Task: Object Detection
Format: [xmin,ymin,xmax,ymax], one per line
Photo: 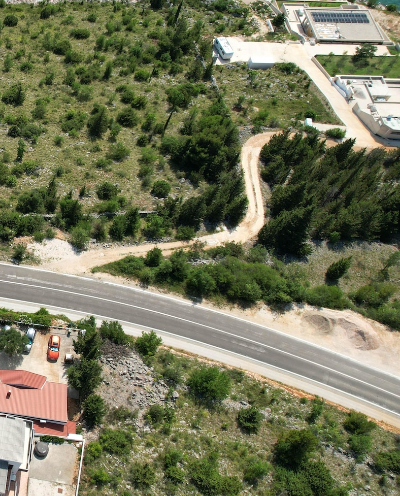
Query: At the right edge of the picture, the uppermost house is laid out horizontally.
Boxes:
[281,3,385,47]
